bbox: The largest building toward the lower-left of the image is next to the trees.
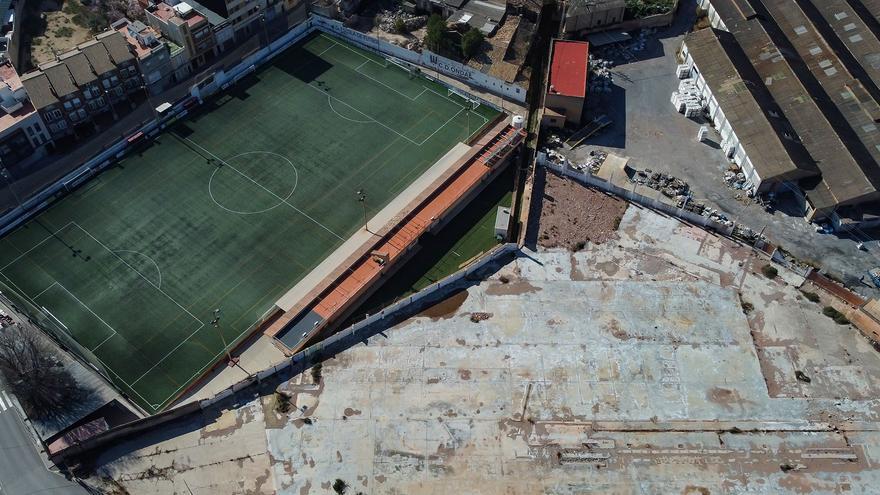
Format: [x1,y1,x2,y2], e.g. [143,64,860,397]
[42,400,146,470]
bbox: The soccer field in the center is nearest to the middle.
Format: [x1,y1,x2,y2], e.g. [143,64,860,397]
[330,165,516,338]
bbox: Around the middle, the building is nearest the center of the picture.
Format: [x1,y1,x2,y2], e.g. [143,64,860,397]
[495,206,511,237]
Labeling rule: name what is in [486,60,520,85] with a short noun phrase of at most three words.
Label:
house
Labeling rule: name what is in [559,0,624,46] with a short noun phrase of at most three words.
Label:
hangar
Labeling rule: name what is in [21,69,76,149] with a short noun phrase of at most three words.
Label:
house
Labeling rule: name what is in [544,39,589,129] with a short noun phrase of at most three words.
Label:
building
